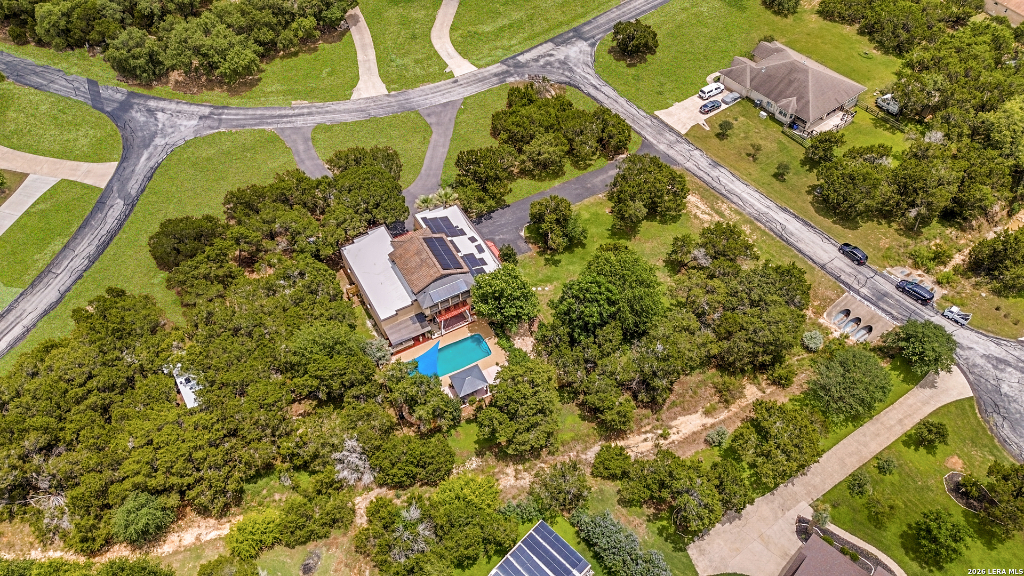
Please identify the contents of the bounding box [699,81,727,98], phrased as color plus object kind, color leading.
white vehicle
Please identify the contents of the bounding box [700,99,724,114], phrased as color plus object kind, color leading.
gray car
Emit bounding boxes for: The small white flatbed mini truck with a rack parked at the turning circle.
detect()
[944,305,973,326]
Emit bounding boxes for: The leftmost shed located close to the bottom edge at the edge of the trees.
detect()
[490,520,593,576]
